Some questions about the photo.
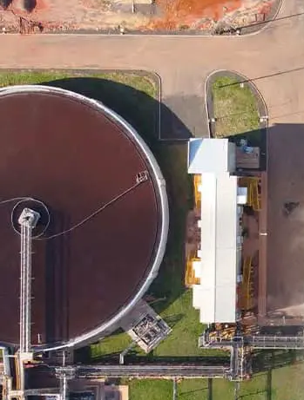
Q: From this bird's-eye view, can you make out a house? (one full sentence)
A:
Yes, a house appears in the view.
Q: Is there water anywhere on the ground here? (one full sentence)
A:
Yes, some water is visible.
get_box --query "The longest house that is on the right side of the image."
[188,137,245,323]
